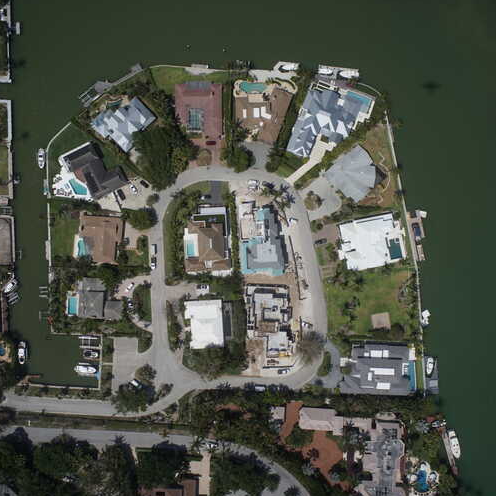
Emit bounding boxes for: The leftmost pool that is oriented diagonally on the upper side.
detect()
[69,177,88,195]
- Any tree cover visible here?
Yes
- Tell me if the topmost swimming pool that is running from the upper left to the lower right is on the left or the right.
right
